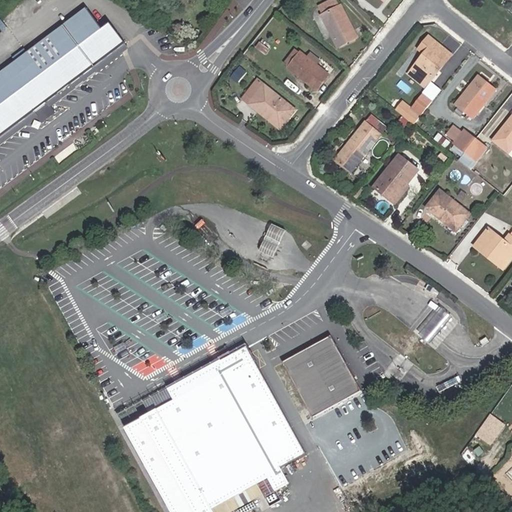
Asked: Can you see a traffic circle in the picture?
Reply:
Yes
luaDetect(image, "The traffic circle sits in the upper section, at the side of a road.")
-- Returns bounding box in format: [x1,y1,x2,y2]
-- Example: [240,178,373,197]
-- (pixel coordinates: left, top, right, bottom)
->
[148,60,208,120]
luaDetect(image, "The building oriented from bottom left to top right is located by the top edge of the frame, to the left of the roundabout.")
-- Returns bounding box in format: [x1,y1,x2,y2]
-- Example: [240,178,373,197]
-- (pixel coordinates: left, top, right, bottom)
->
[0,7,124,138]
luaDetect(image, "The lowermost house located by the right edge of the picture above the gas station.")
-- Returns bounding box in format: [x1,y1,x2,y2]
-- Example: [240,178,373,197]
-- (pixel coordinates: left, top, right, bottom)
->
[472,225,512,272]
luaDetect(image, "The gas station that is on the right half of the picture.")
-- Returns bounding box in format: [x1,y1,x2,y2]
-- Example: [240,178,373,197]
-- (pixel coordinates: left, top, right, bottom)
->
[350,276,510,368]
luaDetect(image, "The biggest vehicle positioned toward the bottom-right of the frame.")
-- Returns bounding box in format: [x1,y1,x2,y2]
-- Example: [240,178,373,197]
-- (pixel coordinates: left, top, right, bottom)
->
[436,375,462,392]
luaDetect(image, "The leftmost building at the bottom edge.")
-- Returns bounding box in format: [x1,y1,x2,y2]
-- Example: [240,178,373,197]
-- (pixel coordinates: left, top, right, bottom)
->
[119,346,304,512]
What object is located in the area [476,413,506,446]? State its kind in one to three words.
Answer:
shed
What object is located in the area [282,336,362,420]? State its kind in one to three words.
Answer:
building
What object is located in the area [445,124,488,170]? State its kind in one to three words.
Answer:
house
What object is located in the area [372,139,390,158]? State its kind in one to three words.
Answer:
swimming pool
